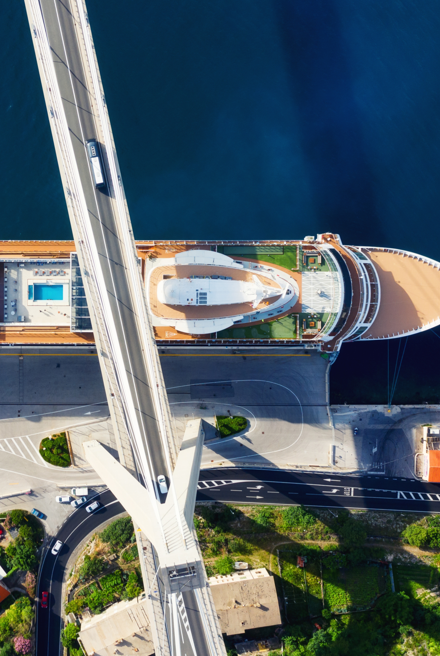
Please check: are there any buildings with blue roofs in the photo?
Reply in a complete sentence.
No, no building with a blue roof can be seen from above.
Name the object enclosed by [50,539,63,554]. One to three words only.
vehicle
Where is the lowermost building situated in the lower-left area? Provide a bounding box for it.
[79,594,154,656]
